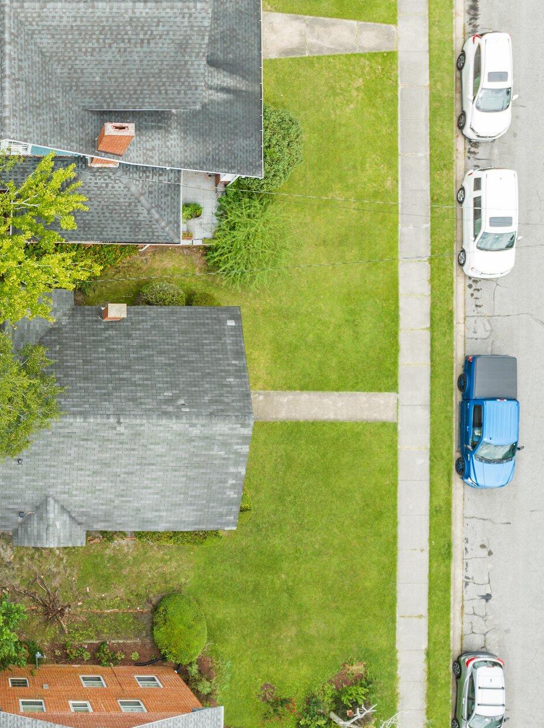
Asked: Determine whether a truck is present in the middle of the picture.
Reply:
No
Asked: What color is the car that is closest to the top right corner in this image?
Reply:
white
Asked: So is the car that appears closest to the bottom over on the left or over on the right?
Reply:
right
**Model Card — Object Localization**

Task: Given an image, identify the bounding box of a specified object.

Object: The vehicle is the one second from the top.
[458,168,524,282]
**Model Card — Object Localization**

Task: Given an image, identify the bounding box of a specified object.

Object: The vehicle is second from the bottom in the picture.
[457,356,525,491]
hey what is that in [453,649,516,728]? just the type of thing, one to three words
car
